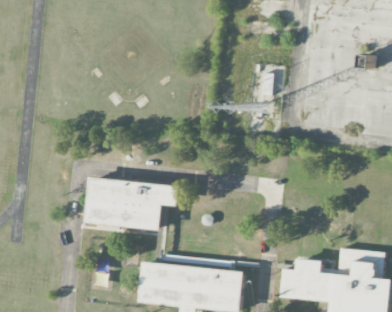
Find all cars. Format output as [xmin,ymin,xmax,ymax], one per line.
[72,201,78,213]
[61,232,68,244]
[146,161,158,166]
[261,241,266,252]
